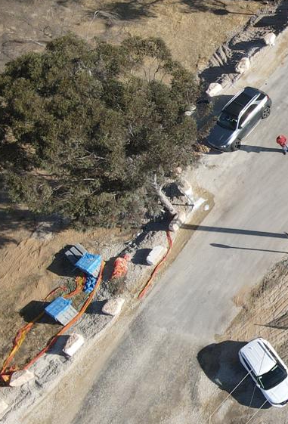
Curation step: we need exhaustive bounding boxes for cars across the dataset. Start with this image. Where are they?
[201,85,269,154]
[236,335,288,409]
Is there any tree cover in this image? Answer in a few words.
Yes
